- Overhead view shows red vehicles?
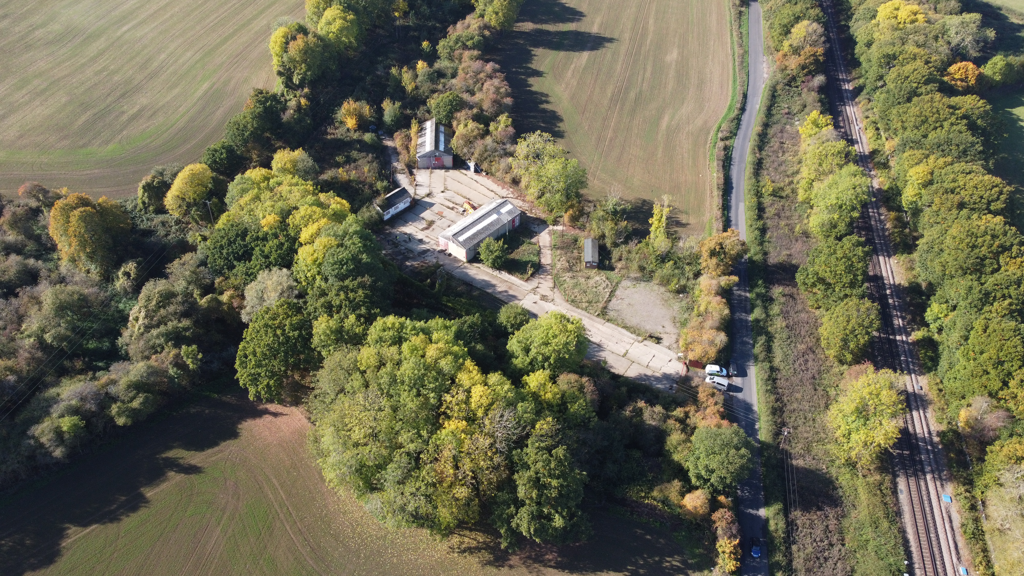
No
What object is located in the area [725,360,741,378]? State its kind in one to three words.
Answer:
car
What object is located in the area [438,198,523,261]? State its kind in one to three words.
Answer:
building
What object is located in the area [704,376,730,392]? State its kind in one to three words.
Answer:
vehicle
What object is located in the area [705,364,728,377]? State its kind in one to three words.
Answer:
vehicle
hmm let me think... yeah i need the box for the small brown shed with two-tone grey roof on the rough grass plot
[583,238,599,270]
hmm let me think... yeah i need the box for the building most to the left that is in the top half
[369,188,412,221]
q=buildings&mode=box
[416,116,454,169]
[438,198,523,261]
[583,238,599,270]
[369,188,412,221]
